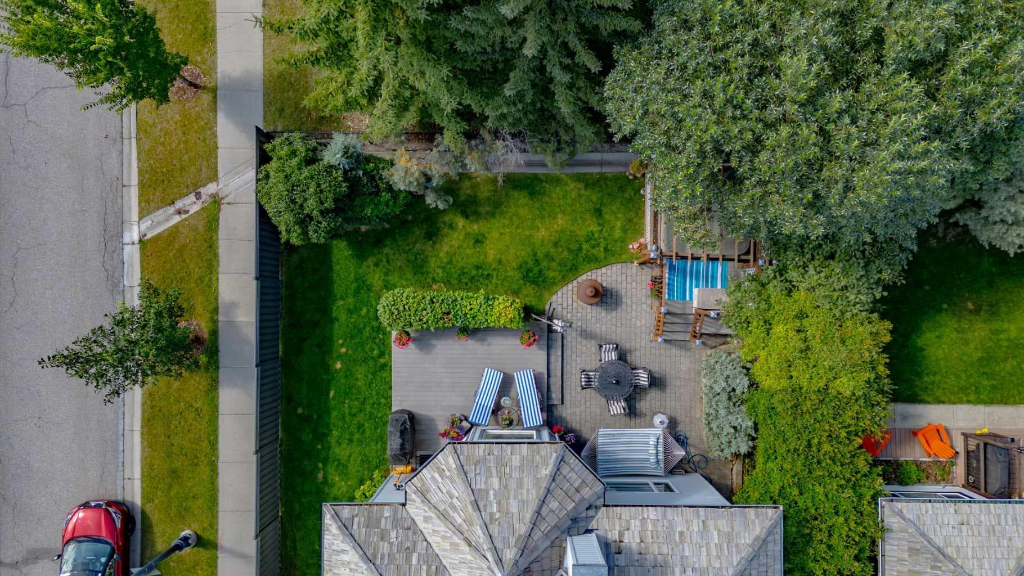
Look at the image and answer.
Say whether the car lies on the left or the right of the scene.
left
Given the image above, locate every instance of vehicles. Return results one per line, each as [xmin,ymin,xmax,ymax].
[49,497,134,576]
